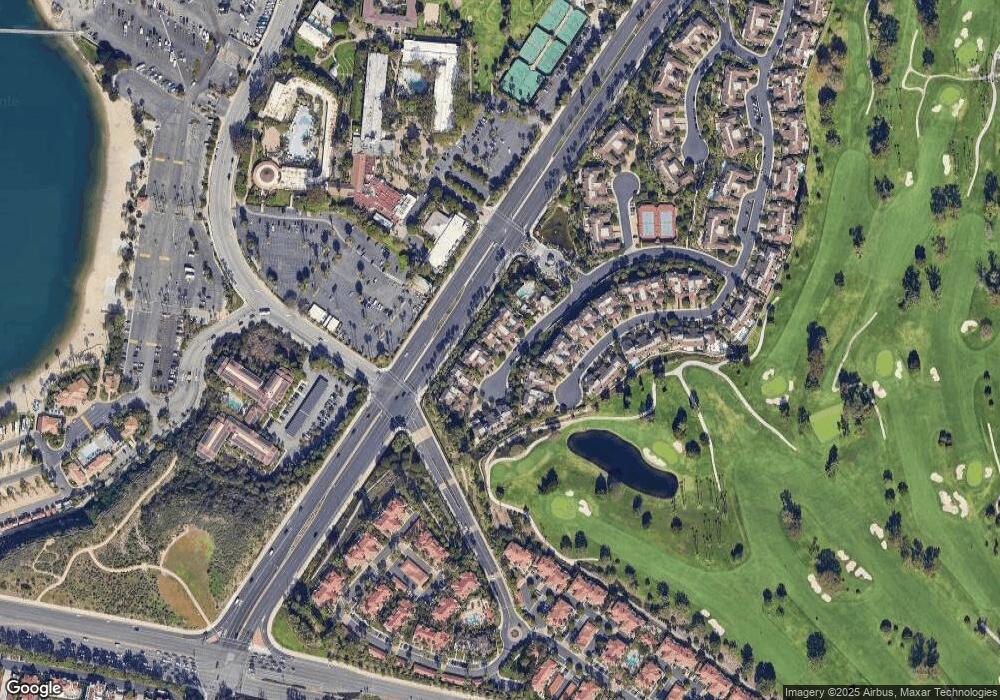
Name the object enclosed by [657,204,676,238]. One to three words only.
tennis court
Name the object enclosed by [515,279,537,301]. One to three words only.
swimming pool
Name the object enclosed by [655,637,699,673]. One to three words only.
house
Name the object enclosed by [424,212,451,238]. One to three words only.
building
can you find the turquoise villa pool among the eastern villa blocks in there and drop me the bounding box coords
[623,648,641,674]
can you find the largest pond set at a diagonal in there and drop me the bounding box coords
[567,430,679,498]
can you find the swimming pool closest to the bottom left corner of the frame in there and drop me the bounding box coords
[77,436,104,466]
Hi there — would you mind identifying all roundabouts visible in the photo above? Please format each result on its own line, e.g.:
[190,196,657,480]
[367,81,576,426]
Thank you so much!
[496,616,531,651]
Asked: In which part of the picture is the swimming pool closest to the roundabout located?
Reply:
bottom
